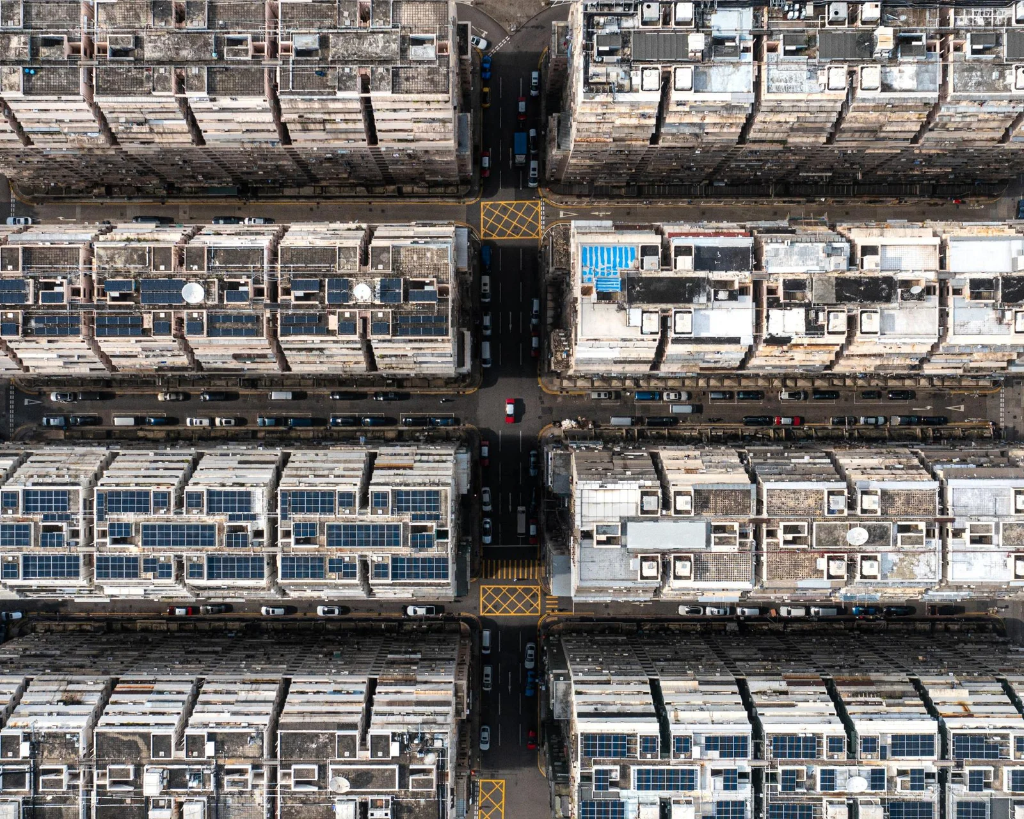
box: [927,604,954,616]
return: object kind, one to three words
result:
vehicle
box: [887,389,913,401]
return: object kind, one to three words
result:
vehicle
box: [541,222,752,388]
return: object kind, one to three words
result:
building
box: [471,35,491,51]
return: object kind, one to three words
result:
car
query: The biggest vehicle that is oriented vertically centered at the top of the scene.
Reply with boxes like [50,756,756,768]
[514,129,527,167]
